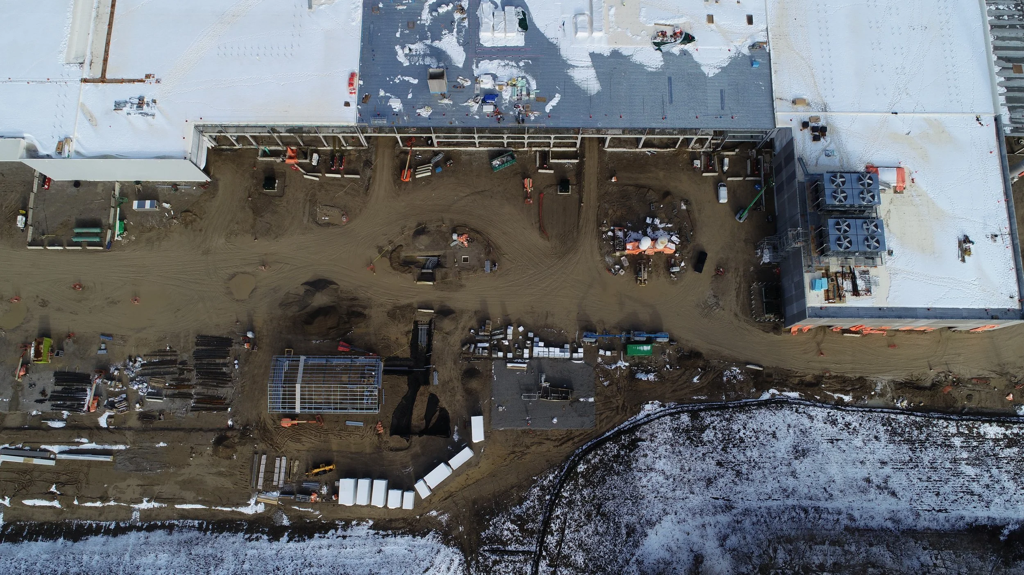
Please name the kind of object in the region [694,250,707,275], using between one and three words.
vehicle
